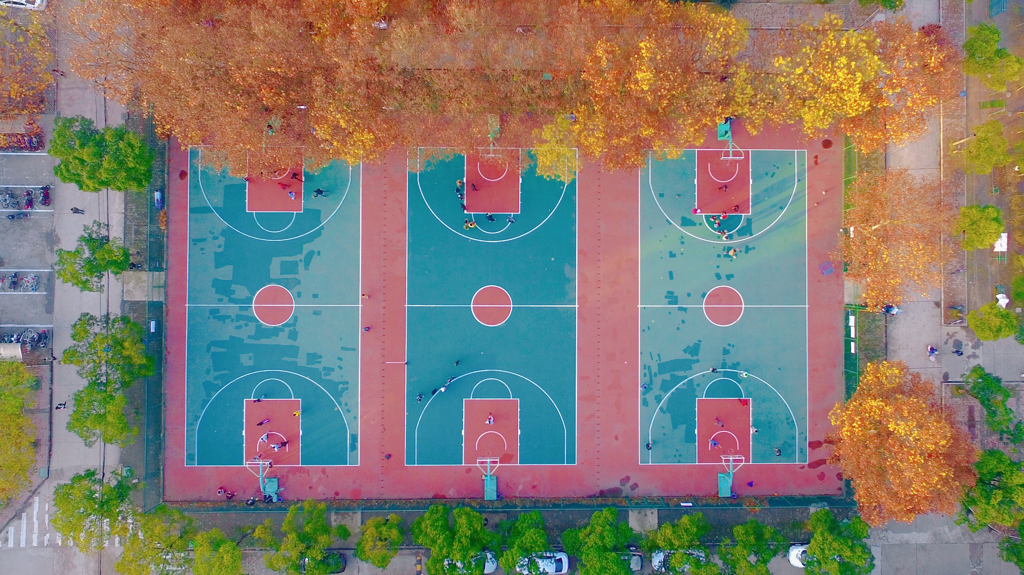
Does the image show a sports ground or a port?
sports ground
